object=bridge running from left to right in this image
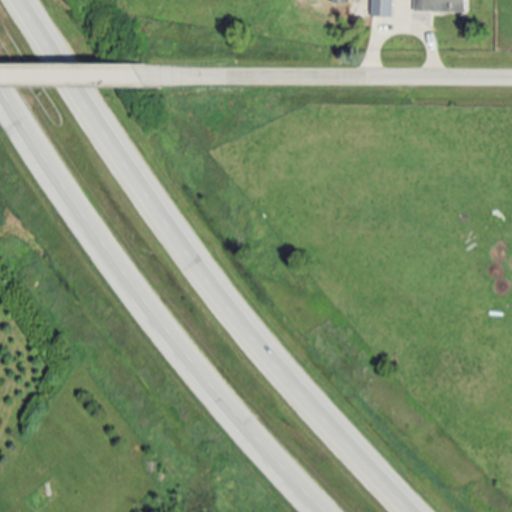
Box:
[0,62,152,90]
